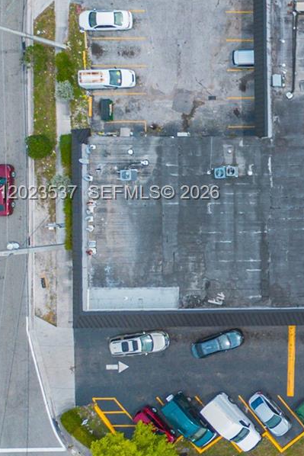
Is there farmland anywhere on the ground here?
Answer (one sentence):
No, the scene doesn't show any farmland.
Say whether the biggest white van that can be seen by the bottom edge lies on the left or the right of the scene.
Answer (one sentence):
The biggest white van that can be seen by the bottom edge appears in the right half of the scene.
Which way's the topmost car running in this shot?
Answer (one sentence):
From this overhead view, the topmost car appears to run from left to right.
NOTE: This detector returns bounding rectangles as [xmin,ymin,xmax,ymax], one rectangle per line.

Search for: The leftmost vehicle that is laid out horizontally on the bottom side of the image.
[107,328,173,357]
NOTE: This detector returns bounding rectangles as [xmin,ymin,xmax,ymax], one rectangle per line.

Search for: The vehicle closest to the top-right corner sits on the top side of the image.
[230,48,255,69]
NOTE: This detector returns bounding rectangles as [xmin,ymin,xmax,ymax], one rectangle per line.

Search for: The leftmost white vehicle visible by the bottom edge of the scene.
[197,393,261,452]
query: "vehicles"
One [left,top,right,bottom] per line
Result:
[75,66,138,91]
[190,327,247,361]
[156,392,218,450]
[107,328,173,357]
[0,165,18,215]
[80,7,136,32]
[230,48,255,69]
[246,389,296,438]
[197,393,261,452]
[130,401,182,450]
[289,395,304,424]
